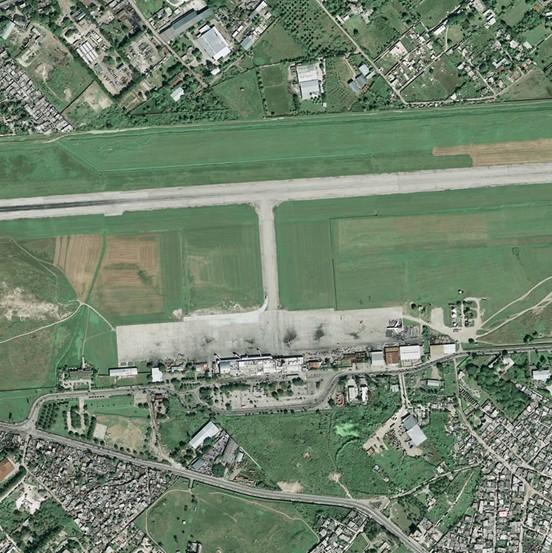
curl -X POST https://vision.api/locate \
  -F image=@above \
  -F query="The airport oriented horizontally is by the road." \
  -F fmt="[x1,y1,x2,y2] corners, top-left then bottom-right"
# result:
[0,163,552,362]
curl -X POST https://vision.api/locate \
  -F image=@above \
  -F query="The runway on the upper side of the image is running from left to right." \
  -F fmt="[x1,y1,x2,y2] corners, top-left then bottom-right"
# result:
[0,163,552,220]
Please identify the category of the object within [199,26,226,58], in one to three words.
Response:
building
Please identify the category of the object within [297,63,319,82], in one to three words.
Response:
building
